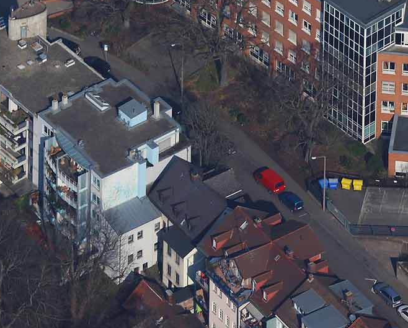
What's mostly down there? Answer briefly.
buildings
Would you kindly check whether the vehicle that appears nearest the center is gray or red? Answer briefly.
red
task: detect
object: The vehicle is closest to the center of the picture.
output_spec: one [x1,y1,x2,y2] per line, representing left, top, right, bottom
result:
[253,166,286,194]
